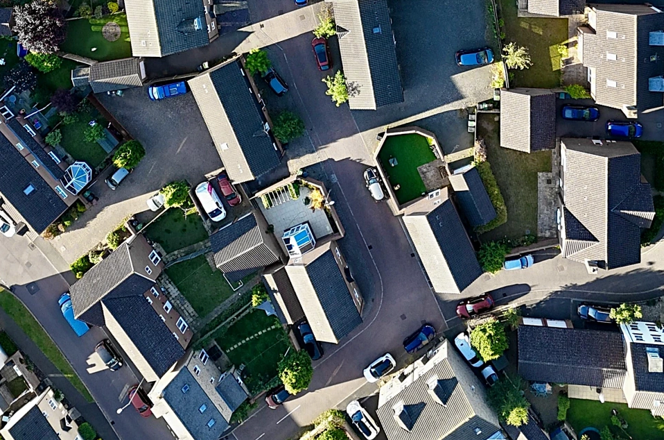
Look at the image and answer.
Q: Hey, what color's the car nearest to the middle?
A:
white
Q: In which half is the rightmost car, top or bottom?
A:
top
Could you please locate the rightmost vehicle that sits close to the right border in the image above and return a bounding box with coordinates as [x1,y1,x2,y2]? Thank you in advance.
[605,119,642,139]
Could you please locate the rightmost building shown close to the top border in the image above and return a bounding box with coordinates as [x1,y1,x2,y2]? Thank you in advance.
[576,4,664,114]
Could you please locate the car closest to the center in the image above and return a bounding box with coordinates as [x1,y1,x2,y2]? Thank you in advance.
[362,166,386,203]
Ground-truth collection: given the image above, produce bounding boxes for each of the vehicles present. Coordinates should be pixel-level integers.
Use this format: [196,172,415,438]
[296,324,323,362]
[216,171,241,207]
[195,179,227,222]
[362,351,398,381]
[147,79,190,101]
[262,61,291,102]
[559,103,603,123]
[61,294,89,332]
[457,293,494,317]
[573,300,616,324]
[263,382,291,409]
[605,119,642,139]
[402,320,437,352]
[362,166,386,203]
[104,165,132,192]
[347,397,379,439]
[126,382,153,417]
[503,250,537,272]
[138,188,169,213]
[451,327,482,371]
[97,335,121,371]
[0,206,13,237]
[453,47,495,66]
